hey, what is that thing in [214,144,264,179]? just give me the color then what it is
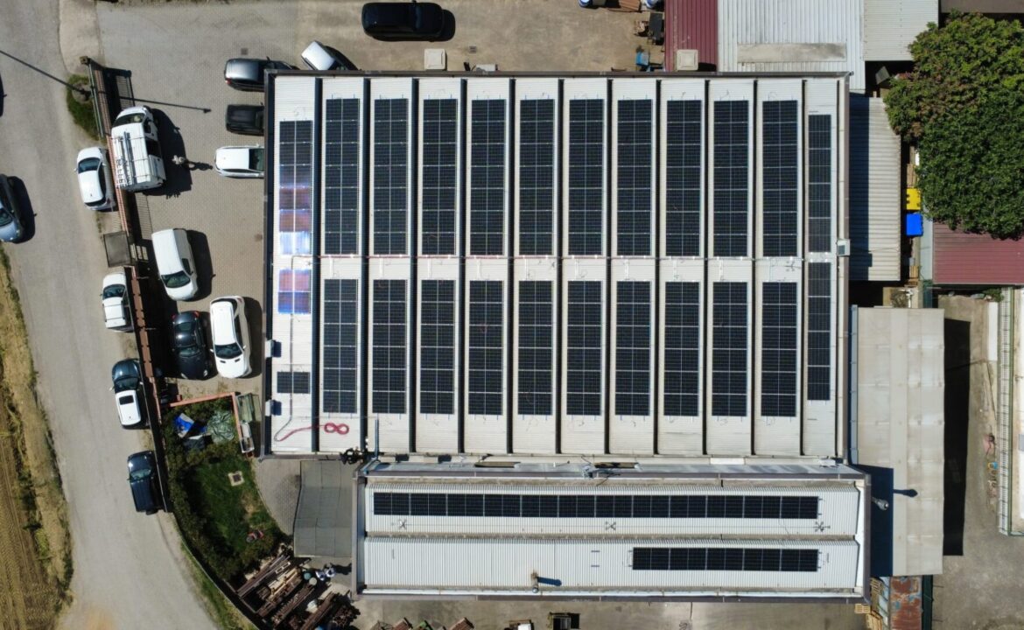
white car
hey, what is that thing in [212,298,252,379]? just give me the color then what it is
white car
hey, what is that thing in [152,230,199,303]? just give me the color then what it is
white van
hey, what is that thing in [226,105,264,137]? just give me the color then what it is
black car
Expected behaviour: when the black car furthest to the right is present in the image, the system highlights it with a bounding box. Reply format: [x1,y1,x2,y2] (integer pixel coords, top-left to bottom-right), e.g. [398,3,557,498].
[362,0,445,41]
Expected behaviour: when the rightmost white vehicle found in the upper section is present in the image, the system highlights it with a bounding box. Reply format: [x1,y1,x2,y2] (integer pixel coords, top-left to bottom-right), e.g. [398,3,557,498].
[302,41,356,70]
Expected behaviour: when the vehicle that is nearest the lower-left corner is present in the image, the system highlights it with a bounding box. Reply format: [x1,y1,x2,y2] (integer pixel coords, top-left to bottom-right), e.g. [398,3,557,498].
[127,447,166,515]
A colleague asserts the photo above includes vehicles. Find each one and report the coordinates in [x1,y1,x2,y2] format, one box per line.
[226,105,264,137]
[152,230,199,303]
[302,41,356,70]
[99,270,132,333]
[0,171,24,244]
[362,0,445,41]
[114,107,166,195]
[110,357,150,430]
[172,309,211,381]
[127,447,166,515]
[212,298,252,379]
[74,146,117,213]
[214,144,264,179]
[225,56,304,92]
